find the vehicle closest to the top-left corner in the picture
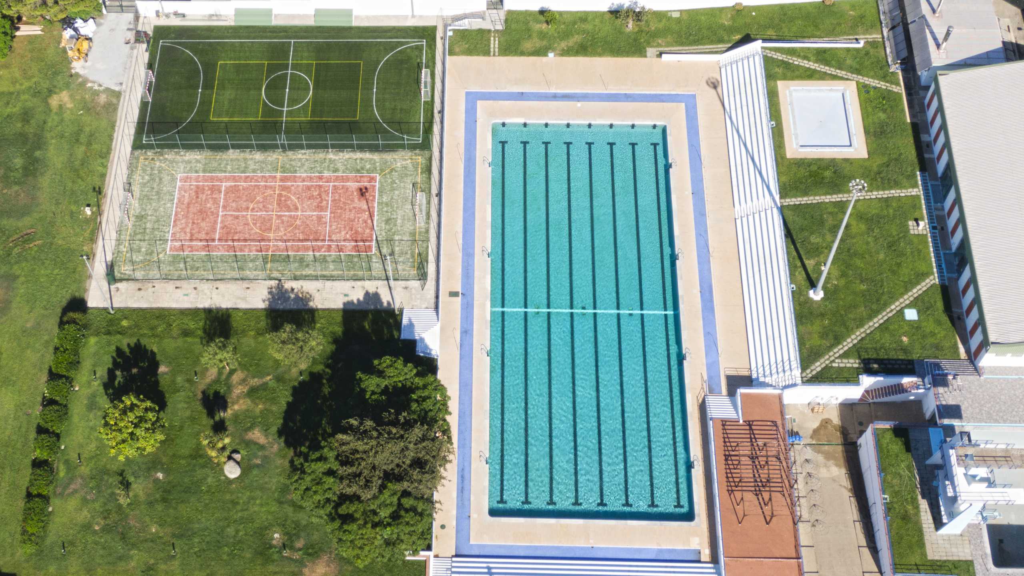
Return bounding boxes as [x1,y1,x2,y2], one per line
[64,31,92,59]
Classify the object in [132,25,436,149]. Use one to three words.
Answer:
sports court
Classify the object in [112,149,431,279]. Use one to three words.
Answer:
tennis court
